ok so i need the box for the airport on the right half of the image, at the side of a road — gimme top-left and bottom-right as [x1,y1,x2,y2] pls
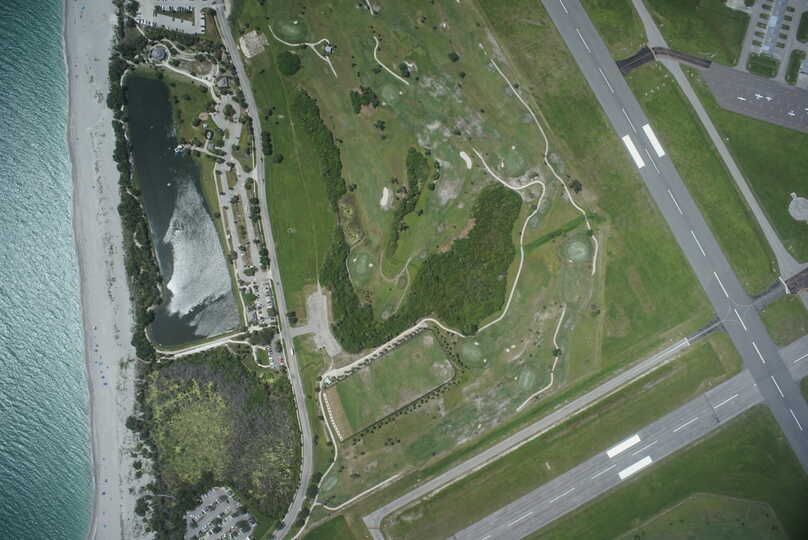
[321,0,808,540]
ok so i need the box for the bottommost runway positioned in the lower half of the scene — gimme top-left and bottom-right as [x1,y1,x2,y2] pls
[445,369,765,540]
